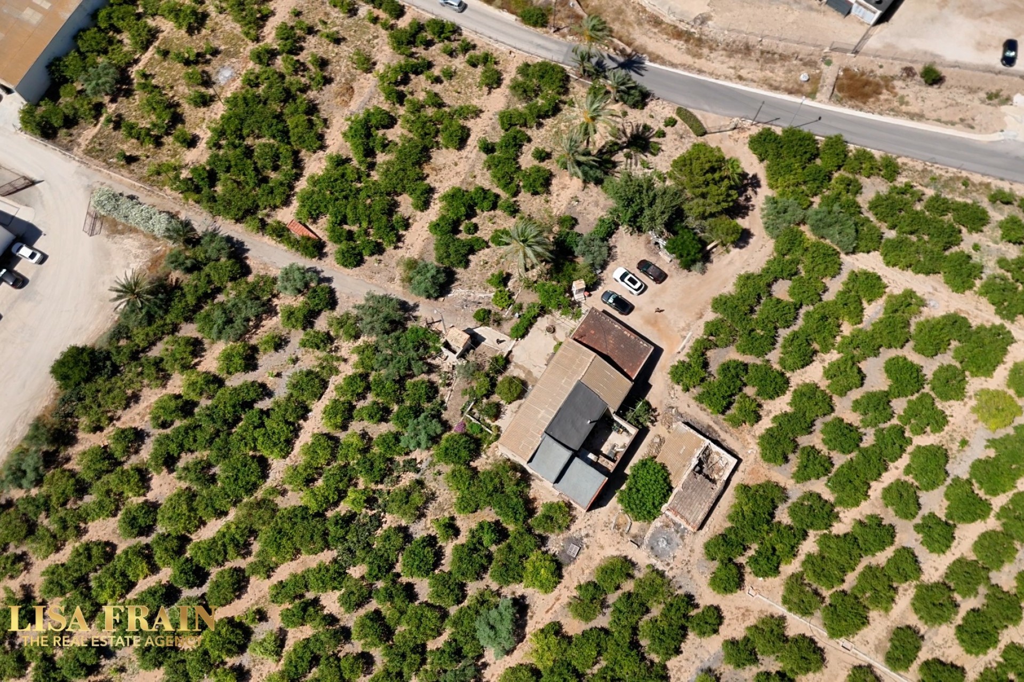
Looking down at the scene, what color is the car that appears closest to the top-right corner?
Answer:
black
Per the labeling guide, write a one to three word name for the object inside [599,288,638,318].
car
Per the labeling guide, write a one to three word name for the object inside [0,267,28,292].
car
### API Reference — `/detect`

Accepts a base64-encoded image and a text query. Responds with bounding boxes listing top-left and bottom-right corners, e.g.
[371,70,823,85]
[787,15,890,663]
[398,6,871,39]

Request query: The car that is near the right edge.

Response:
[998,39,1018,67]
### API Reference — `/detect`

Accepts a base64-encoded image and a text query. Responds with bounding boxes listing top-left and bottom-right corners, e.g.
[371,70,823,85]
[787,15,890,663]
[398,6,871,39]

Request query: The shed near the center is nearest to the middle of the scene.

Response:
[438,325,472,361]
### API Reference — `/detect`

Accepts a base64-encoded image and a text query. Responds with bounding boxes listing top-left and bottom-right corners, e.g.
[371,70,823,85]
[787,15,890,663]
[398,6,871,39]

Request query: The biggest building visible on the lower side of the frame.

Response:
[497,307,655,514]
